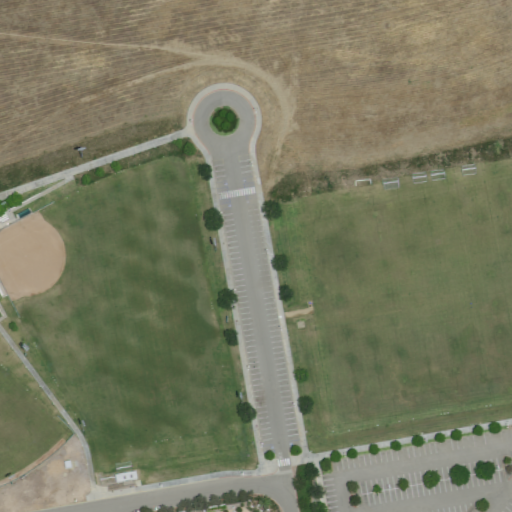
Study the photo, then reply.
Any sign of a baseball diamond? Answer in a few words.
Yes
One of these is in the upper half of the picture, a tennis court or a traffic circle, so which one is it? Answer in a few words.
traffic circle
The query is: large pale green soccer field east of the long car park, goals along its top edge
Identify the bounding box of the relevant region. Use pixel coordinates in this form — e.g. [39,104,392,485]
[264,158,512,453]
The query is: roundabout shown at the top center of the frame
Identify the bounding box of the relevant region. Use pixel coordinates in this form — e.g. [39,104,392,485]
[193,89,256,140]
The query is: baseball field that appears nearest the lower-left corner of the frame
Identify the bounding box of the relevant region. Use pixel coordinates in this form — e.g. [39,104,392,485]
[0,332,74,485]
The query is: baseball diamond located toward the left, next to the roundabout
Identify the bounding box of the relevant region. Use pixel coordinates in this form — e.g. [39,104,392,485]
[0,138,258,487]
